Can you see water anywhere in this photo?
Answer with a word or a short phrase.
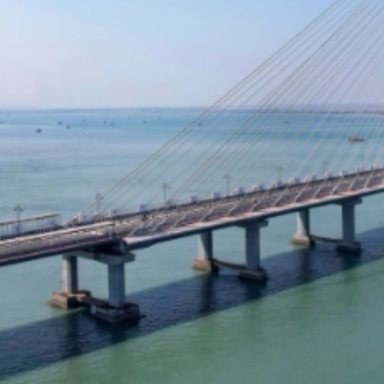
Yes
